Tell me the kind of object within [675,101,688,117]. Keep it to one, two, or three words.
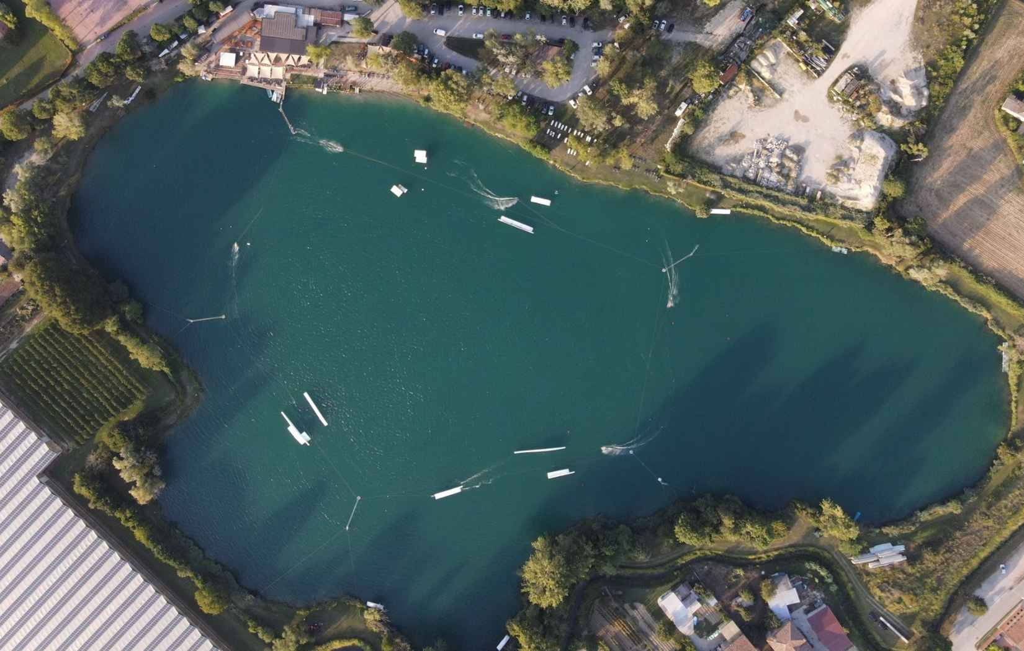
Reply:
vehicle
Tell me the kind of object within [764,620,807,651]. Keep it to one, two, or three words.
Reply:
house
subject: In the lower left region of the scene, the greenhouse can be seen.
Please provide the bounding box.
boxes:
[0,392,228,651]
